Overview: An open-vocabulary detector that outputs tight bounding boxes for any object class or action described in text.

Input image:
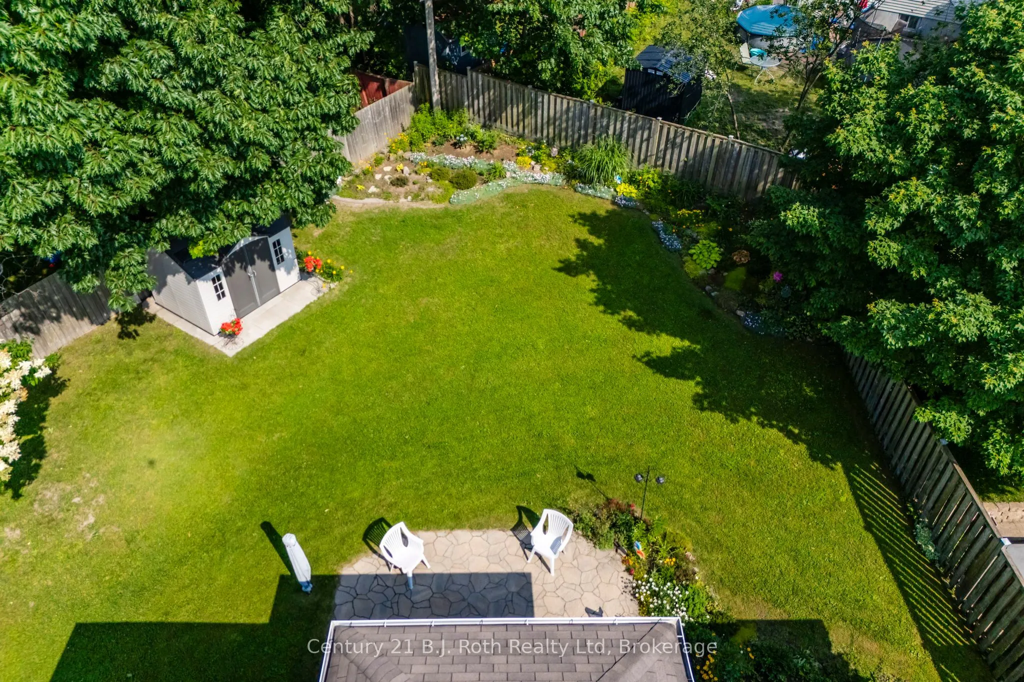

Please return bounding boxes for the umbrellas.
[283,534,312,596]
